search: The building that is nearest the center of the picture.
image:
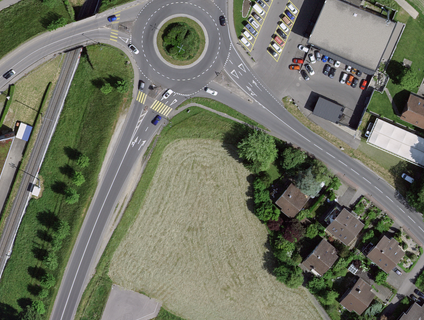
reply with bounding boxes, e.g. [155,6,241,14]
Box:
[276,184,309,217]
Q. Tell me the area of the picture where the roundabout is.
top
